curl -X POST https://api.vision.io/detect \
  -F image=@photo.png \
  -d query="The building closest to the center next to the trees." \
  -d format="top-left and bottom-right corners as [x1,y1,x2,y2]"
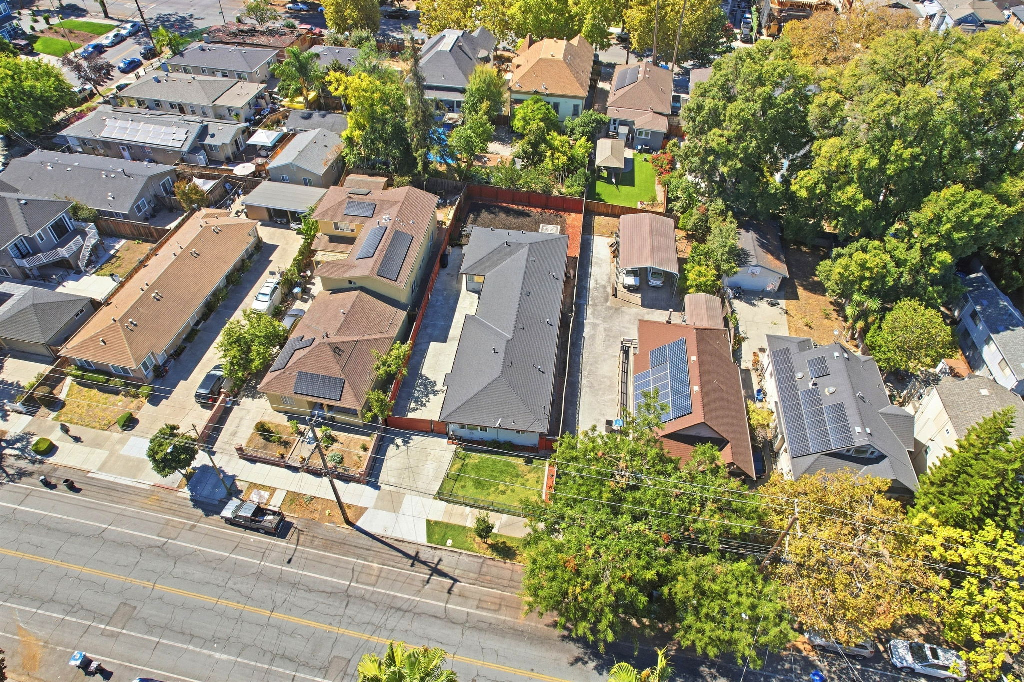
[439,226,570,448]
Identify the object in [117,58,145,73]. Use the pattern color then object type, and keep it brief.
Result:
blue car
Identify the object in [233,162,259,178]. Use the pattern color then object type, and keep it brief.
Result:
white umbrella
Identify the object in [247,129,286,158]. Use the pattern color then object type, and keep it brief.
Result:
white tent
